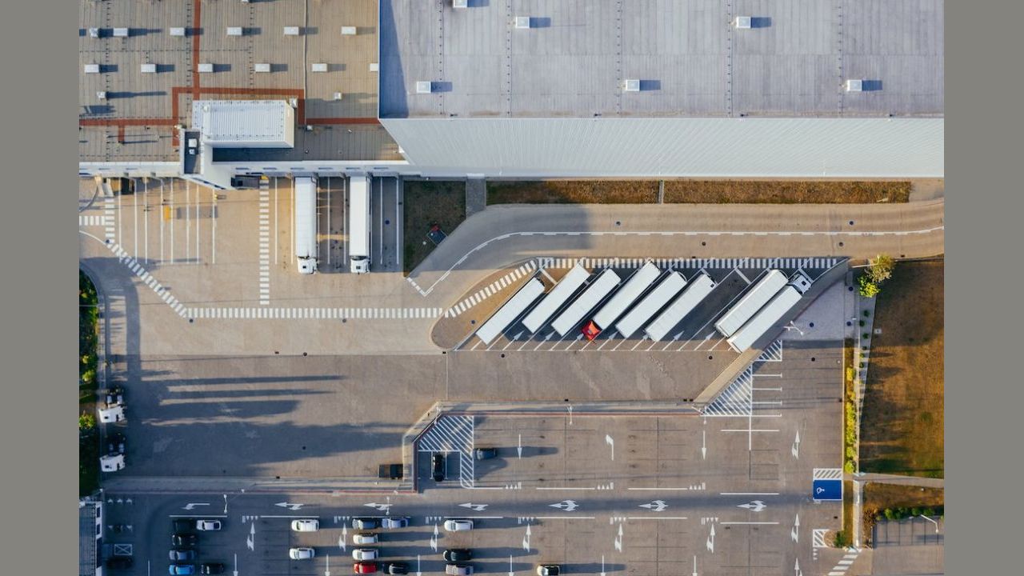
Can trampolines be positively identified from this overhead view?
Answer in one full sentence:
No, there appears to be no trampoline in this shot.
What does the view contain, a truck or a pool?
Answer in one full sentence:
Visible in the photo is a truck.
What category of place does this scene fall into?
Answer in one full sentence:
It's an industrial area.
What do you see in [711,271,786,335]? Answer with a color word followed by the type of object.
white trailer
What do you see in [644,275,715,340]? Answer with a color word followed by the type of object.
white trailer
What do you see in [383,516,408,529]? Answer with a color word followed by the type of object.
blue vehicle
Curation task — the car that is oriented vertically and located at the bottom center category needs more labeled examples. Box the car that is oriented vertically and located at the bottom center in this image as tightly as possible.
[432,452,445,481]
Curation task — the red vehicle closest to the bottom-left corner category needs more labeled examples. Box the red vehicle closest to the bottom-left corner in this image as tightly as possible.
[355,561,378,575]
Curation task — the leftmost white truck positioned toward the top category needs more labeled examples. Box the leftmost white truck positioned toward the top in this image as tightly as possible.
[296,178,318,275]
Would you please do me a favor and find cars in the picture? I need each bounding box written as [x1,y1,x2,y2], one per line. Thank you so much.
[354,532,378,546]
[174,518,199,532]
[291,546,316,560]
[172,547,197,561]
[385,561,409,575]
[445,518,473,532]
[198,518,222,531]
[383,516,408,529]
[354,546,379,560]
[537,563,559,576]
[354,517,379,530]
[355,561,378,575]
[447,562,473,576]
[475,447,497,460]
[172,533,198,546]
[445,547,472,561]
[432,452,445,481]
[203,561,226,575]
[292,518,320,532]
[171,562,196,576]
